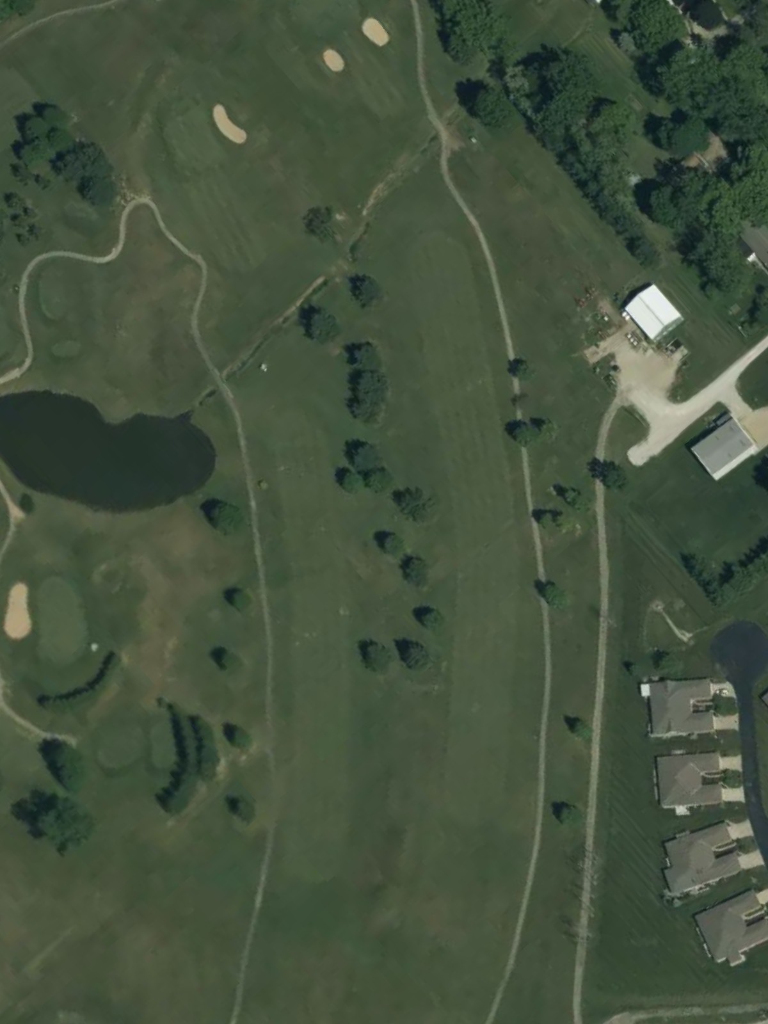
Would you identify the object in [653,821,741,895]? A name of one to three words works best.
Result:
house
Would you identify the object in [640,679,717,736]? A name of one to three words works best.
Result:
house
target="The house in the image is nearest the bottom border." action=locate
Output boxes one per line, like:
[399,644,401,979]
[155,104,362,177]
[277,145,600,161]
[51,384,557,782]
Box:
[694,885,768,962]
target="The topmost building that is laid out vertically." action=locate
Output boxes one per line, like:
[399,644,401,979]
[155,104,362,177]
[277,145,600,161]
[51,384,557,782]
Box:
[740,216,768,276]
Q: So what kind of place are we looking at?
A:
golf course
